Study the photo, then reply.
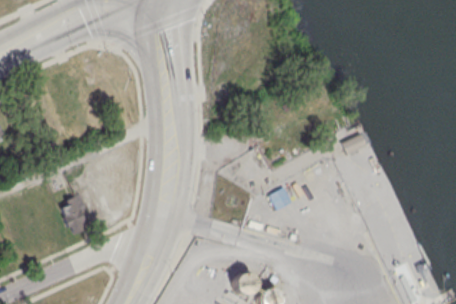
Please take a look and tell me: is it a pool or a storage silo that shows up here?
storage silo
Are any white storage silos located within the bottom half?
Yes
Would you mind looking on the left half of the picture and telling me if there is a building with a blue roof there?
No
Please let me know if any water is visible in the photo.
Yes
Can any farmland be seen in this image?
No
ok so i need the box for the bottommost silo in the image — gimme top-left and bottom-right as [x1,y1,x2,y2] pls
[259,288,285,304]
